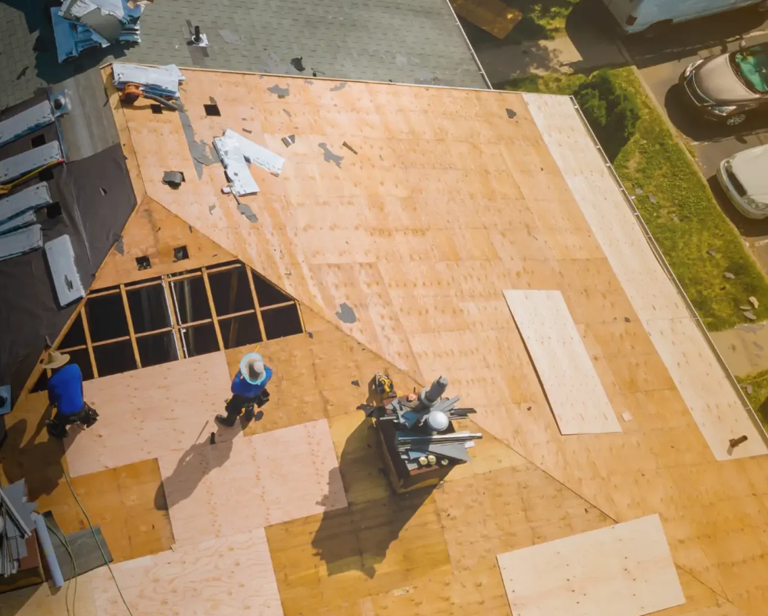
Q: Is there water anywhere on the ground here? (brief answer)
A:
No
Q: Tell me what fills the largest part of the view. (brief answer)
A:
buildings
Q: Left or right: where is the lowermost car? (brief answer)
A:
right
